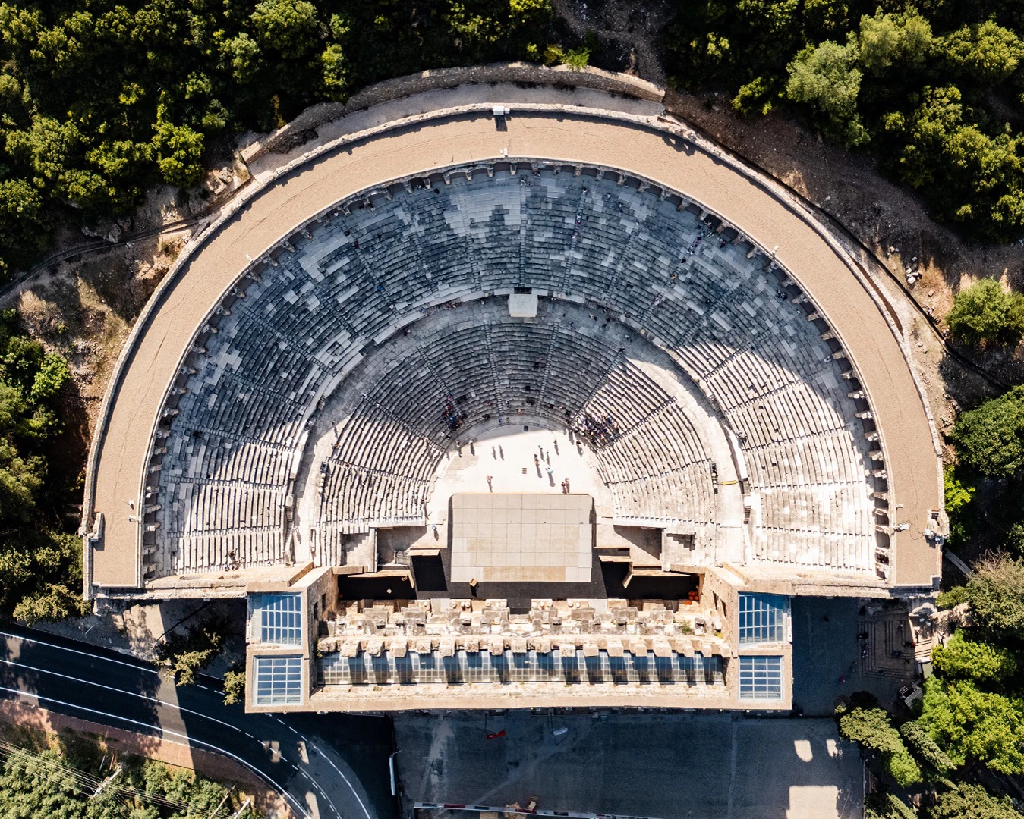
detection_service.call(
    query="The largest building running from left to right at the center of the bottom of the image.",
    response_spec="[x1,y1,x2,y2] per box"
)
[246,560,792,712]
